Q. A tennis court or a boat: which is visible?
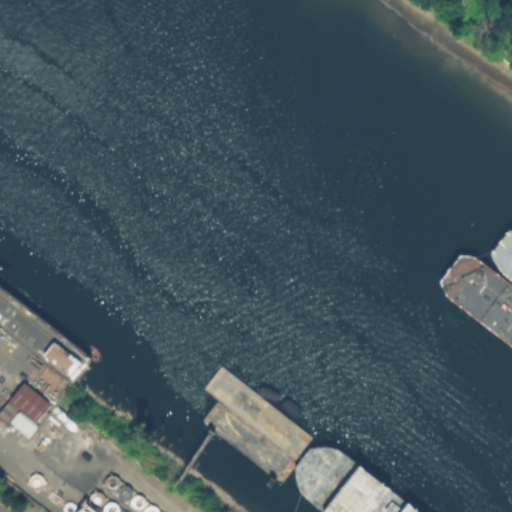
boat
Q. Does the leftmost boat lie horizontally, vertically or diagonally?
diagonally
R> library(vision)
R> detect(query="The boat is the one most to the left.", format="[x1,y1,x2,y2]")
[53,406,79,432]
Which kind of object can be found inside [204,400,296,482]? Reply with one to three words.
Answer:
ship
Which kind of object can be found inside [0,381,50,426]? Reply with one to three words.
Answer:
building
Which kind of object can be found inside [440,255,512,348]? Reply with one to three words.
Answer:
ship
